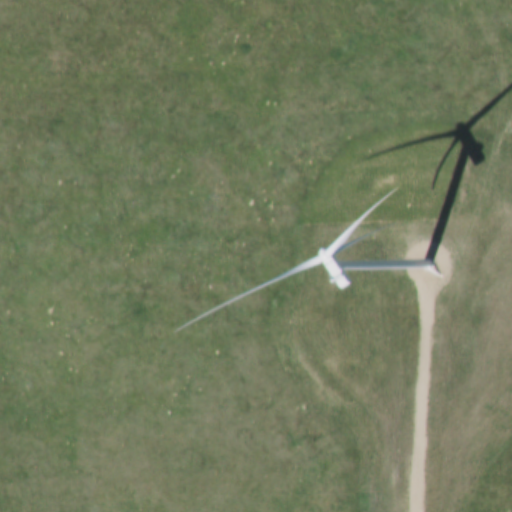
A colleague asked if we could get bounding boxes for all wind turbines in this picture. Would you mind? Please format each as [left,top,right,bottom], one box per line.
[176,188,444,330]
